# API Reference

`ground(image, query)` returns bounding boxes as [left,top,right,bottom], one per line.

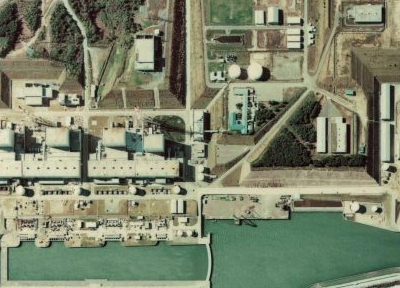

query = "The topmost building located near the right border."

[348,6,382,22]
